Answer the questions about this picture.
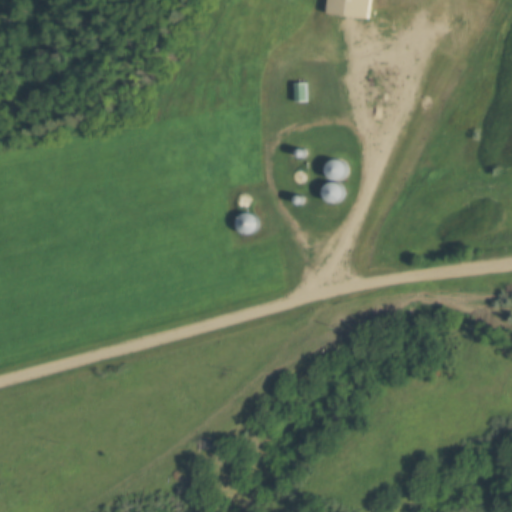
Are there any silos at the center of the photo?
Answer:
Yes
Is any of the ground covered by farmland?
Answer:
Yes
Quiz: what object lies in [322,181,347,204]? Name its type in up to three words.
silo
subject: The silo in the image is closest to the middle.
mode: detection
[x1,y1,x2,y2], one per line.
[236,212,260,235]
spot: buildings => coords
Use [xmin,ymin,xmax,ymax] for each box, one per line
[326,0,374,21]
[294,82,310,103]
